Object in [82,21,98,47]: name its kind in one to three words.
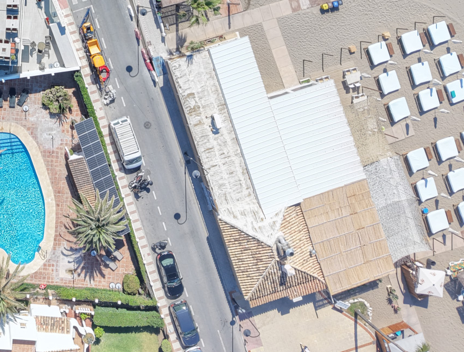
work vehicle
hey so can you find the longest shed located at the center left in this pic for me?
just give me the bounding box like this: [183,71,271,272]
[62,142,99,216]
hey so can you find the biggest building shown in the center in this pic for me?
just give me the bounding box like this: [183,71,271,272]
[157,37,404,310]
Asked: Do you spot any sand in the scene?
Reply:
Yes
